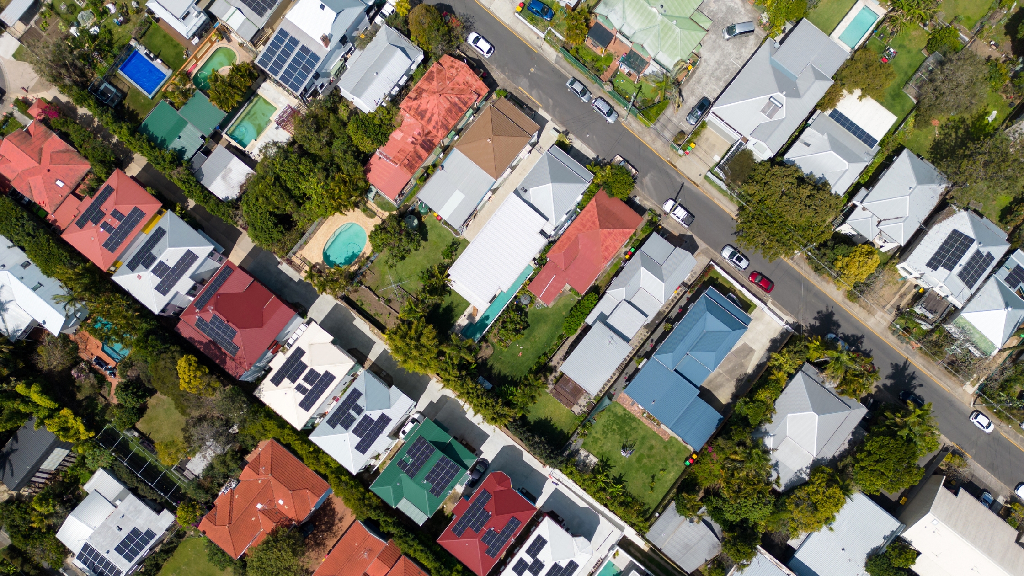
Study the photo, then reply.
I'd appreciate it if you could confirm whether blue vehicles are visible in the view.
Yes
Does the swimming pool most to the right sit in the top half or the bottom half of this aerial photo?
top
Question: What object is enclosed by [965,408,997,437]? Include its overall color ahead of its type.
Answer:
white car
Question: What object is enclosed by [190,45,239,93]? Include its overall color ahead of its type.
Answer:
green swimming pool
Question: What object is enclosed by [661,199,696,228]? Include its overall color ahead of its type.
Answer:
white truck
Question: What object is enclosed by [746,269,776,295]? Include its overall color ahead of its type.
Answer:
red car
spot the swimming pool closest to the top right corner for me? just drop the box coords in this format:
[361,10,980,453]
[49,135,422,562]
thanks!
[837,3,881,50]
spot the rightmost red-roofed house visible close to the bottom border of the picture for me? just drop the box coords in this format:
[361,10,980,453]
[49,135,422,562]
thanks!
[435,470,538,576]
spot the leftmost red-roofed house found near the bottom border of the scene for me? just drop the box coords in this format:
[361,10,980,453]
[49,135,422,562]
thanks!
[197,438,333,560]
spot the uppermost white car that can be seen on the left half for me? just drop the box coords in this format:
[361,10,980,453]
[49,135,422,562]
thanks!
[372,1,396,27]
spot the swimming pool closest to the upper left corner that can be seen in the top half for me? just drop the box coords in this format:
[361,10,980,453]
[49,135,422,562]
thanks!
[118,40,175,100]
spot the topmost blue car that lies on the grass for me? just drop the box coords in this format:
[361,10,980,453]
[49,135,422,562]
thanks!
[527,0,556,22]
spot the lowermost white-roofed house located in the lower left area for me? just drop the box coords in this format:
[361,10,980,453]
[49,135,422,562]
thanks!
[55,467,189,576]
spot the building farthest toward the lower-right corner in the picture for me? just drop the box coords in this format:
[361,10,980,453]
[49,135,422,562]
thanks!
[893,484,1024,576]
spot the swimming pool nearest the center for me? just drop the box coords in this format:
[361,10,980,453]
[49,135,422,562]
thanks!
[461,262,536,342]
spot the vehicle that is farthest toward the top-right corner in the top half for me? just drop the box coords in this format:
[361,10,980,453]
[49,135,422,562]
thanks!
[722,20,755,41]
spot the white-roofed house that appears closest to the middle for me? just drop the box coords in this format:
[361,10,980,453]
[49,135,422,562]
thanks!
[448,191,549,313]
